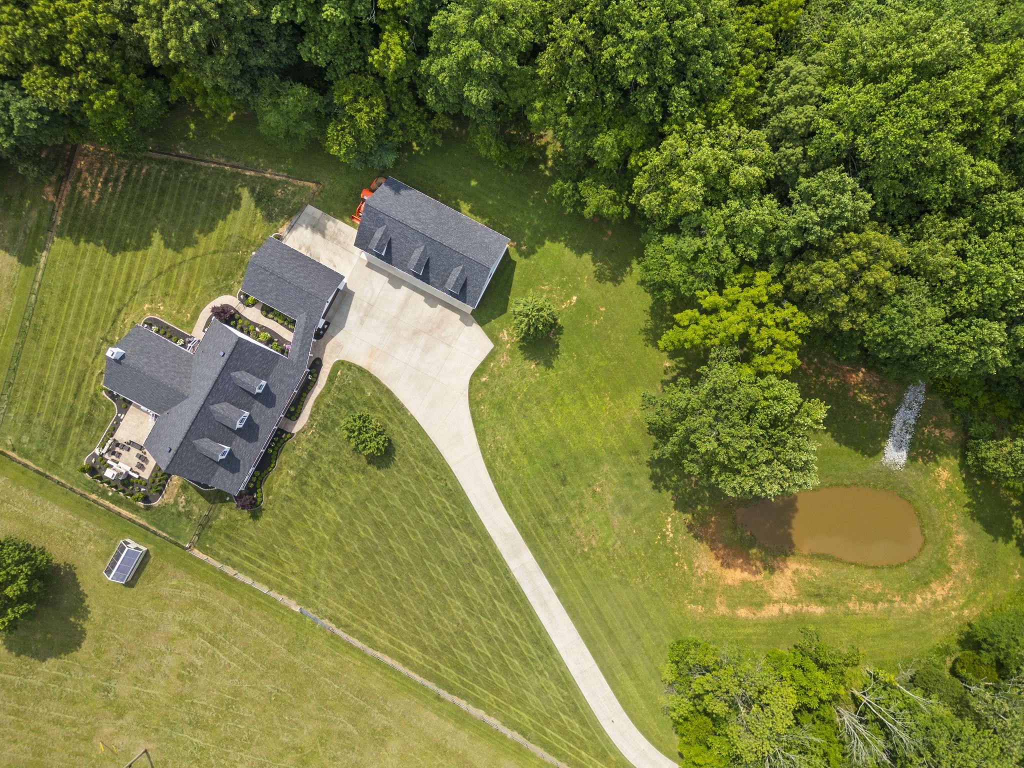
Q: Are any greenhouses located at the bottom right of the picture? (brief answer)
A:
No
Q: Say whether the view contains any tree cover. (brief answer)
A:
Yes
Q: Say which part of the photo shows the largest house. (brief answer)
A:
left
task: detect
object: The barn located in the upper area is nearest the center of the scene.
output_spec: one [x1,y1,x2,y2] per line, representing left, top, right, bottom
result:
[353,175,510,311]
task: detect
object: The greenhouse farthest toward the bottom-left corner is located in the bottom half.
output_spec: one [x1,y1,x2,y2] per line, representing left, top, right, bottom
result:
[102,538,147,585]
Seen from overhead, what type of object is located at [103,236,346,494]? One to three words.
house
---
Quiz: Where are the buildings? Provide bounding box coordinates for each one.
[103,236,346,494]
[353,175,510,311]
[102,538,147,585]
